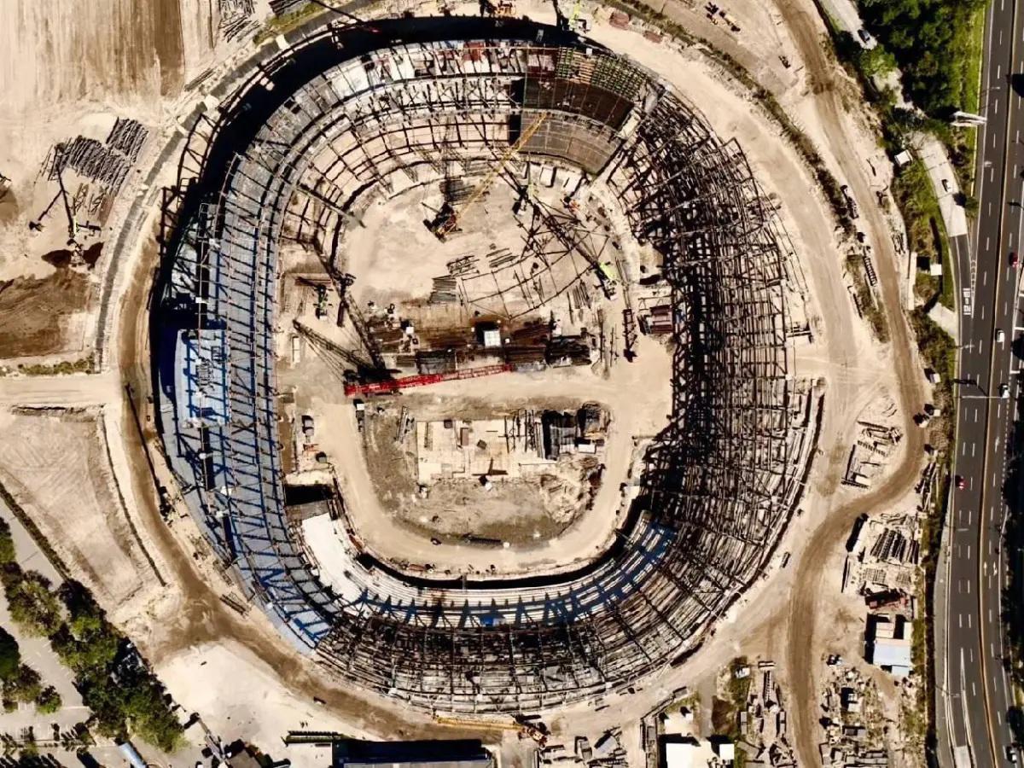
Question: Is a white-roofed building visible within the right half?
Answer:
Yes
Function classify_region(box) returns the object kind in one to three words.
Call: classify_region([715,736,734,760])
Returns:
building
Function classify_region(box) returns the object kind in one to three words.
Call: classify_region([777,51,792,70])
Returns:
vehicle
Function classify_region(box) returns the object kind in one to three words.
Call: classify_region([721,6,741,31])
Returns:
vehicle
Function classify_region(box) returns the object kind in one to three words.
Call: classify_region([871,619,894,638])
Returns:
building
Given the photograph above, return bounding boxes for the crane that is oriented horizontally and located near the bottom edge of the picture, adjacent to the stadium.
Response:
[432,714,550,746]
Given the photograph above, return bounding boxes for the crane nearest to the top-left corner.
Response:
[63,212,98,250]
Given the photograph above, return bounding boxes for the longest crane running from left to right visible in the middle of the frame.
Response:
[343,362,517,394]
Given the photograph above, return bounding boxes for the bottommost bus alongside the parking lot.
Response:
[120,746,147,768]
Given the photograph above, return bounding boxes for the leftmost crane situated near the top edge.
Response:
[308,0,395,42]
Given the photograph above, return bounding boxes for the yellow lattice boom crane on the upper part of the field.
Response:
[422,111,549,243]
